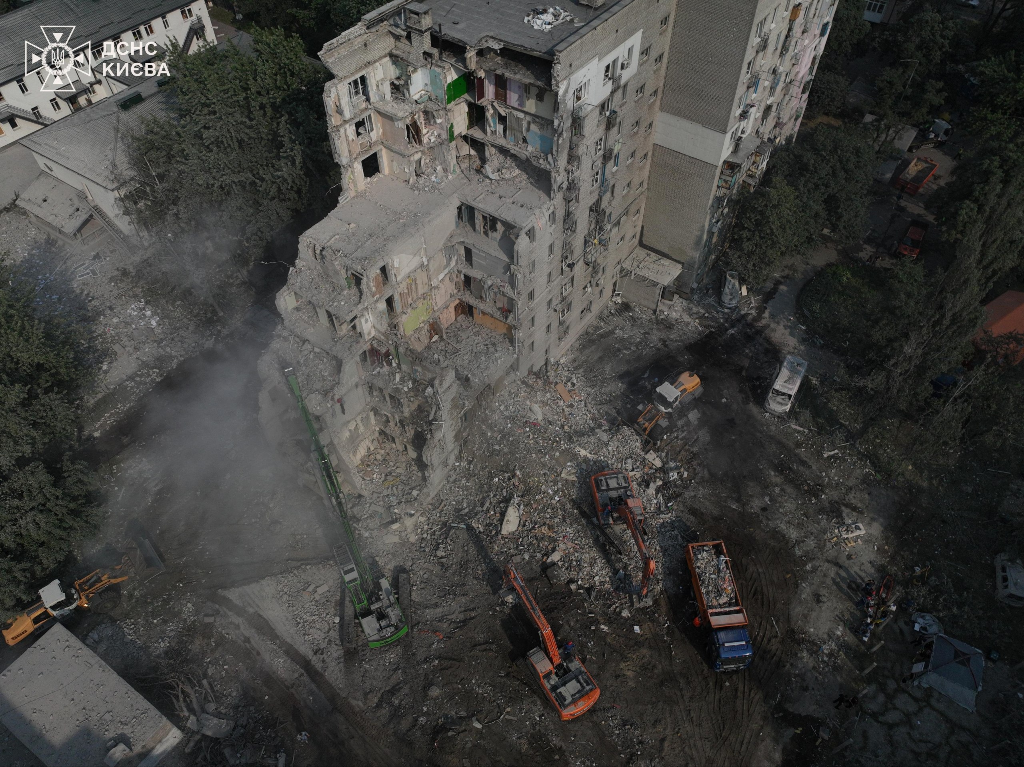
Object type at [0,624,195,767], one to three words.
shed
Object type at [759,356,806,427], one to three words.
van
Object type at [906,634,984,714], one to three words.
tent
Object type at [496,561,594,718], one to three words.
work vehicle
